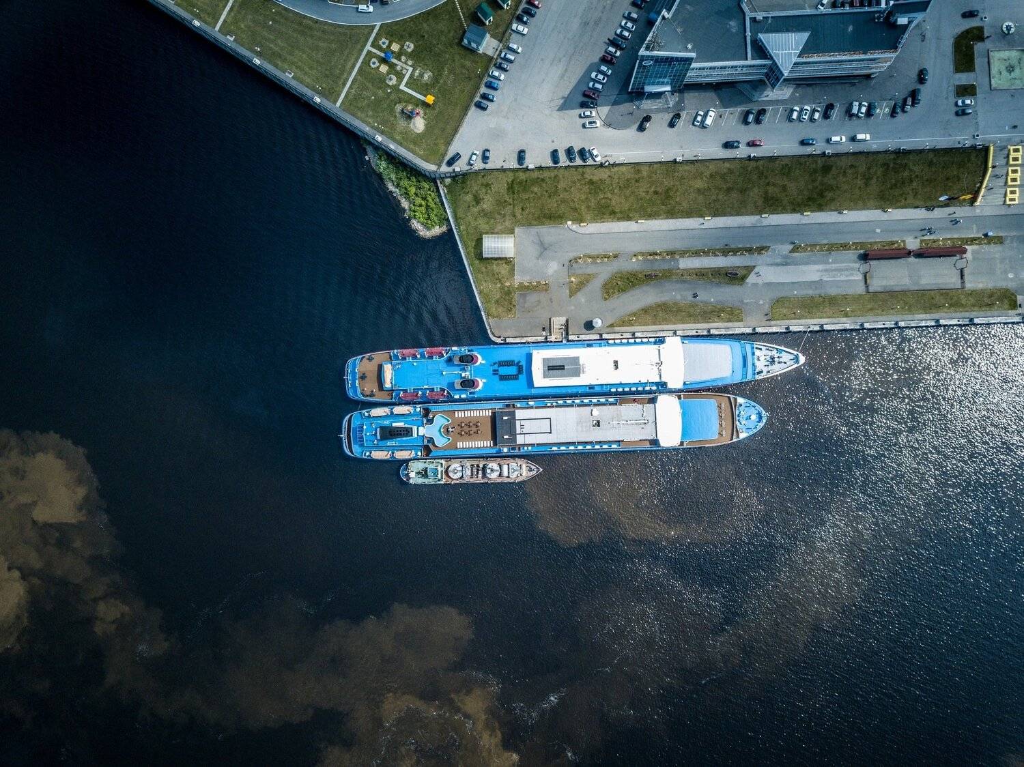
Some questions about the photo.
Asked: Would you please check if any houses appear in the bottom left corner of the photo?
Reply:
No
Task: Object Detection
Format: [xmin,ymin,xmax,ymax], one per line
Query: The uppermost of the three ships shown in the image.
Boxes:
[342,336,807,403]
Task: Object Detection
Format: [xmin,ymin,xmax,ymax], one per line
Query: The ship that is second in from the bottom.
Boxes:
[338,393,771,461]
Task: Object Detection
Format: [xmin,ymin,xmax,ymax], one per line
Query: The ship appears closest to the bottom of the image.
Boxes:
[400,458,543,485]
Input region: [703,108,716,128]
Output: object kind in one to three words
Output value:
vehicle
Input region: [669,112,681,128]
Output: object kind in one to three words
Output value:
vehicle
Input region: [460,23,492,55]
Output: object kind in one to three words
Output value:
house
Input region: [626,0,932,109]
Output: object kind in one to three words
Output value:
building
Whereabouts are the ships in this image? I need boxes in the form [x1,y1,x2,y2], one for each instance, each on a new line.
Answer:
[342,336,807,403]
[338,393,771,461]
[400,458,543,485]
